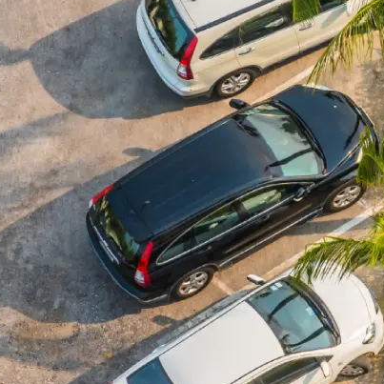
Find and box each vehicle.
[88,80,378,301]
[132,0,384,99]
[108,265,380,384]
